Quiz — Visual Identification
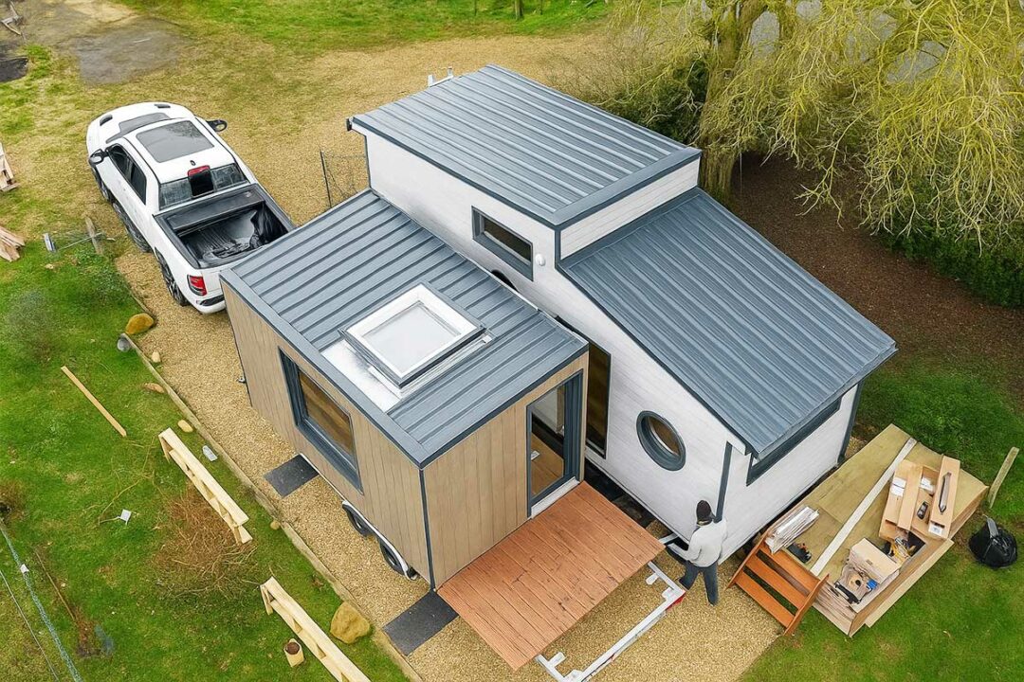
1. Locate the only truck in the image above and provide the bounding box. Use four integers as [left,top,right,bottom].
[83,105,299,323]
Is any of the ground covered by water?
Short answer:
No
